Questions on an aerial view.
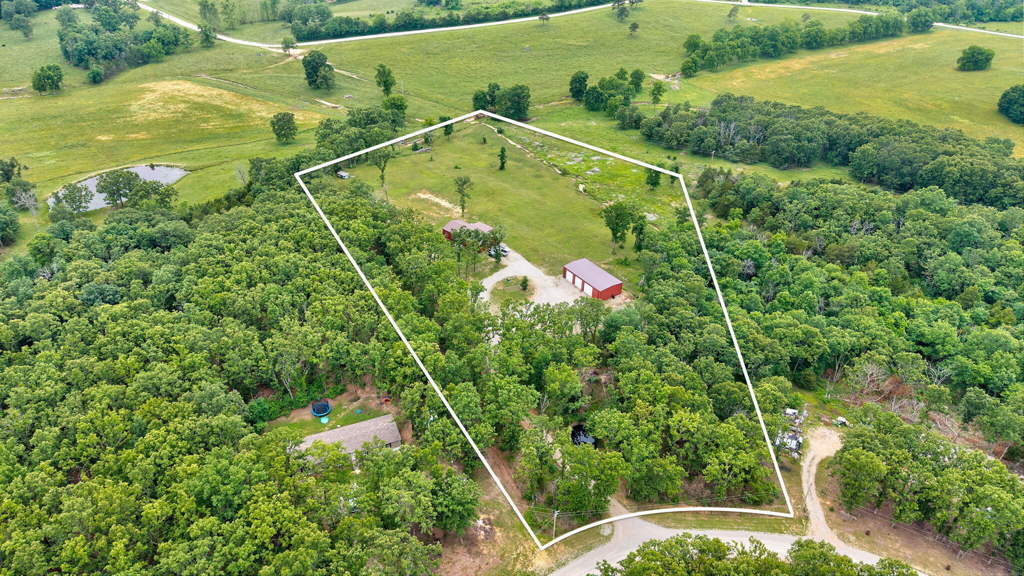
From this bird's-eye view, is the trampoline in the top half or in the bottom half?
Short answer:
bottom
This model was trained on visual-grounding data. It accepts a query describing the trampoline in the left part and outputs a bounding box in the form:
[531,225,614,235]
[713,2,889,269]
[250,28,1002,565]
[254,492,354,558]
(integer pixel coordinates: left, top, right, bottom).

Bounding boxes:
[310,395,331,415]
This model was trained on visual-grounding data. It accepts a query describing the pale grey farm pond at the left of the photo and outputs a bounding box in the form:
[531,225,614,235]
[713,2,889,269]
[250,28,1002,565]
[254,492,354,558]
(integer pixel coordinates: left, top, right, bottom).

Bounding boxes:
[46,165,190,212]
